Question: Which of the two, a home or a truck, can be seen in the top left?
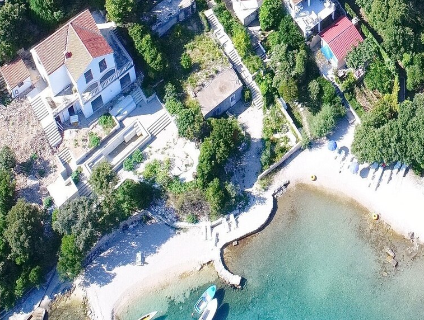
home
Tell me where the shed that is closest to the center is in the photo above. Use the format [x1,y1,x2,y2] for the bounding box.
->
[194,68,243,121]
